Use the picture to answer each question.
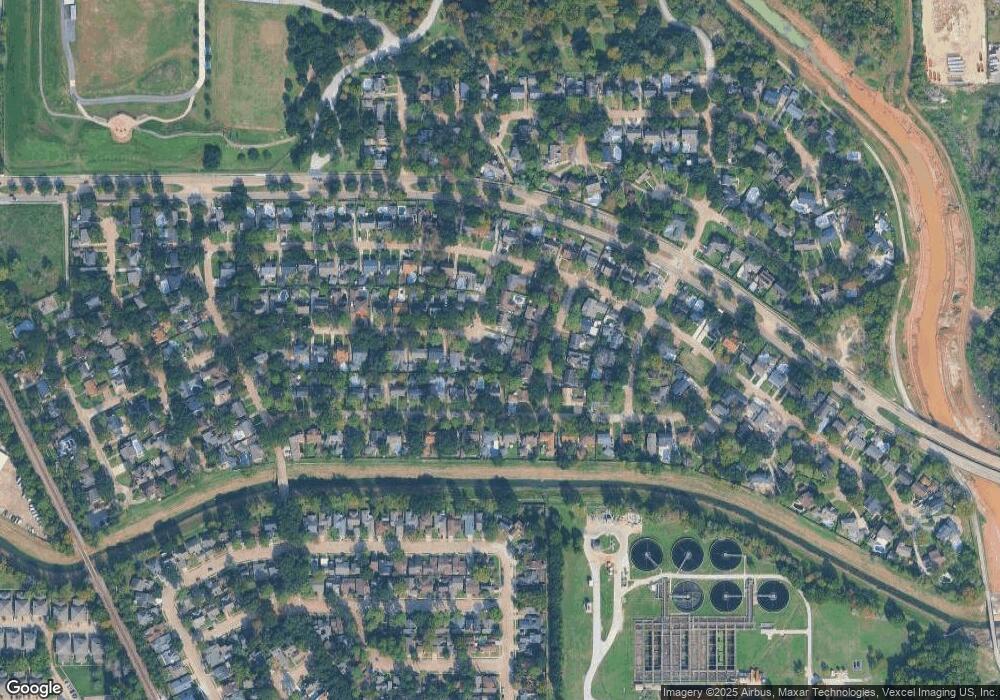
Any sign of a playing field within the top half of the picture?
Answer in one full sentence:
Yes, there is a playing field within the top half of the picture.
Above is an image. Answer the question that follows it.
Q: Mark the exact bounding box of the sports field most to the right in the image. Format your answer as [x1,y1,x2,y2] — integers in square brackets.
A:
[211,3,285,128]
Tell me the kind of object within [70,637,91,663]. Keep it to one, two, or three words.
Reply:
house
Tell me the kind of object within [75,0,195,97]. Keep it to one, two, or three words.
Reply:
sports field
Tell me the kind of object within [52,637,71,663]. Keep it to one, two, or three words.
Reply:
house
